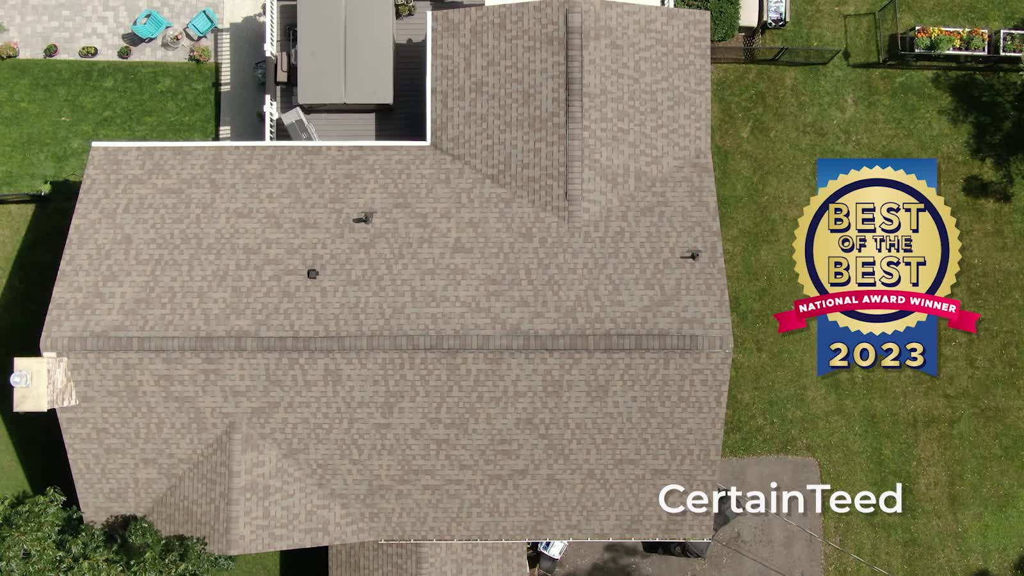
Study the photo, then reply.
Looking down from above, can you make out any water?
No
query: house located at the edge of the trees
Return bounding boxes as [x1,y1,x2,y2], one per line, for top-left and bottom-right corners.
[9,0,734,576]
